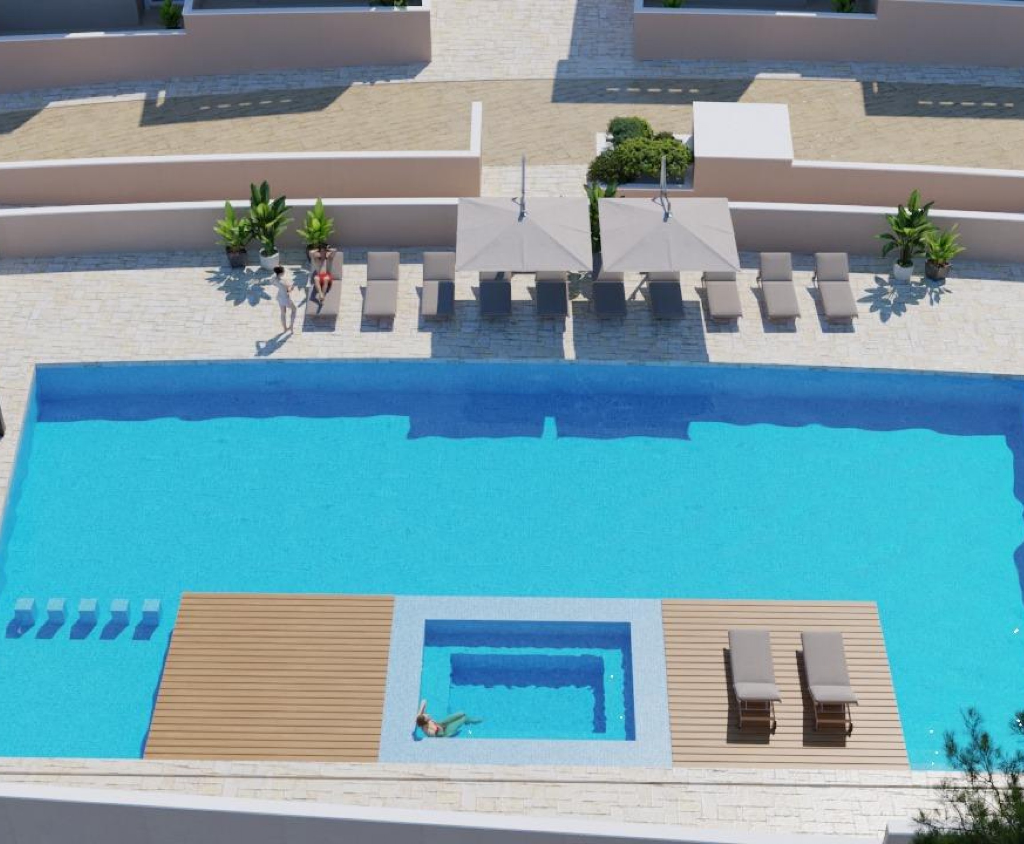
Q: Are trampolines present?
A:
No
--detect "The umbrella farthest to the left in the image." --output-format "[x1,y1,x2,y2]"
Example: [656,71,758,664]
[456,155,593,272]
